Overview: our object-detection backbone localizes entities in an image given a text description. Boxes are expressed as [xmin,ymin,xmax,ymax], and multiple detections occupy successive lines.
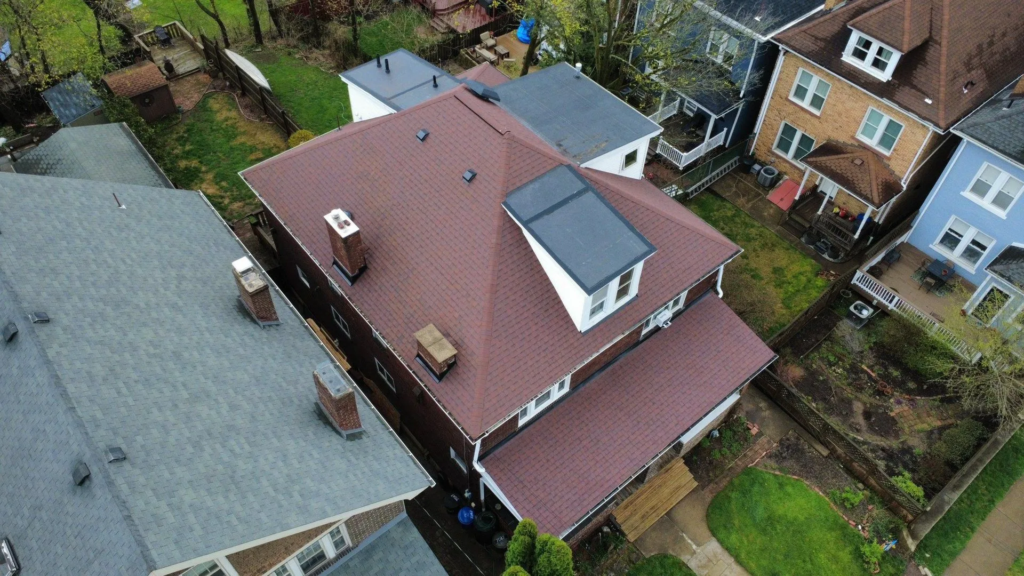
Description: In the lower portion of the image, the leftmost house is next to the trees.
[0,171,451,576]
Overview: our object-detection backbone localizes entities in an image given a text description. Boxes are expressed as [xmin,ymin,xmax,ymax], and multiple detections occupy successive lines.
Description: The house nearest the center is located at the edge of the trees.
[237,48,778,554]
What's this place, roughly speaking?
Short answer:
residential area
